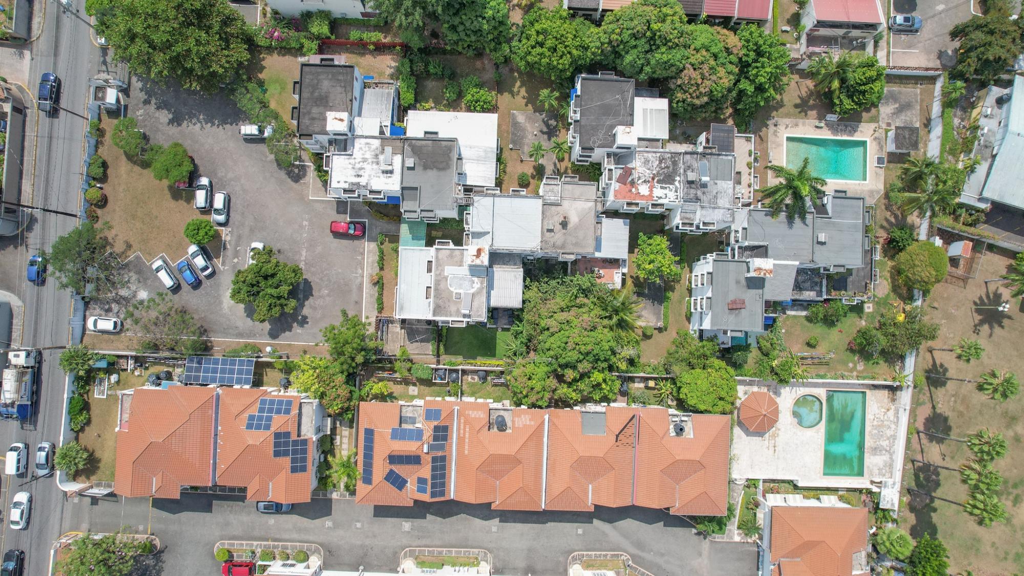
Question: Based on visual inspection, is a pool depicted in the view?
Yes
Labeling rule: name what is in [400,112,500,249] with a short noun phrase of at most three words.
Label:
house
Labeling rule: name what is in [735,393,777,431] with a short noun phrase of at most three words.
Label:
gazebo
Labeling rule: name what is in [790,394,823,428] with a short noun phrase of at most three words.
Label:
swimming pool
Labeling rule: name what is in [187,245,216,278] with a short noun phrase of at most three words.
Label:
car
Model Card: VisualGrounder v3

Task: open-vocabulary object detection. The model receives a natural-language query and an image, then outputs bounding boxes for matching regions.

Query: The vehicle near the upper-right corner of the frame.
[886,15,922,33]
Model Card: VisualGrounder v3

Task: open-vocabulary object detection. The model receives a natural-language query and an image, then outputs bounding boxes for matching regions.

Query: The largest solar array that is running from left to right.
[184,356,261,385]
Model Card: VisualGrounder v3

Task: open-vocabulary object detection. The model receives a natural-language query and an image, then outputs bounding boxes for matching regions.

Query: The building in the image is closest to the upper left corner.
[0,91,30,120]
